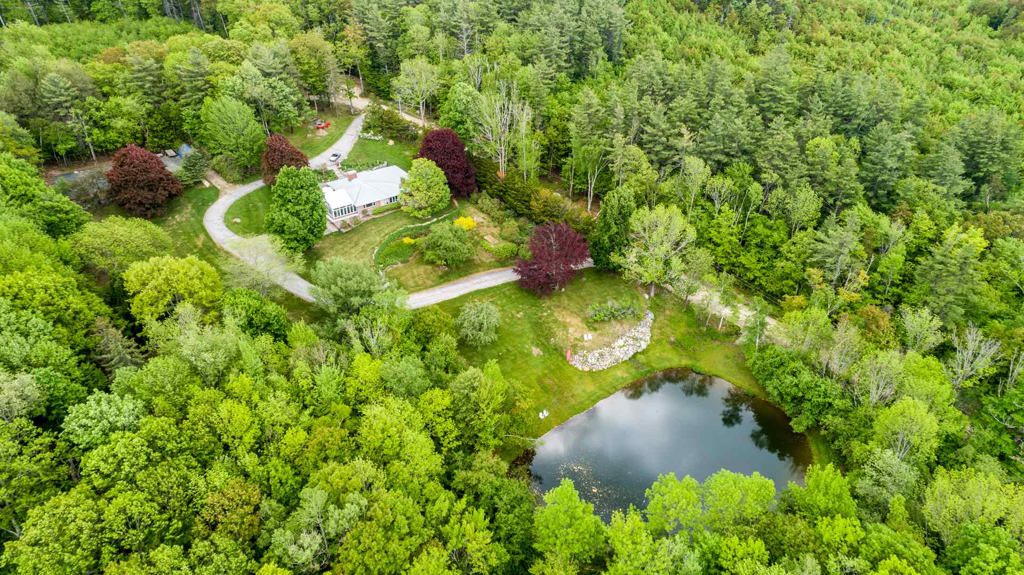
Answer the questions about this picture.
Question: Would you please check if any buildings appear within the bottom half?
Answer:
No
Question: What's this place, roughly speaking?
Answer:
forest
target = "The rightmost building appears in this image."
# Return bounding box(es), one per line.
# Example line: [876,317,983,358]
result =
[322,165,410,222]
